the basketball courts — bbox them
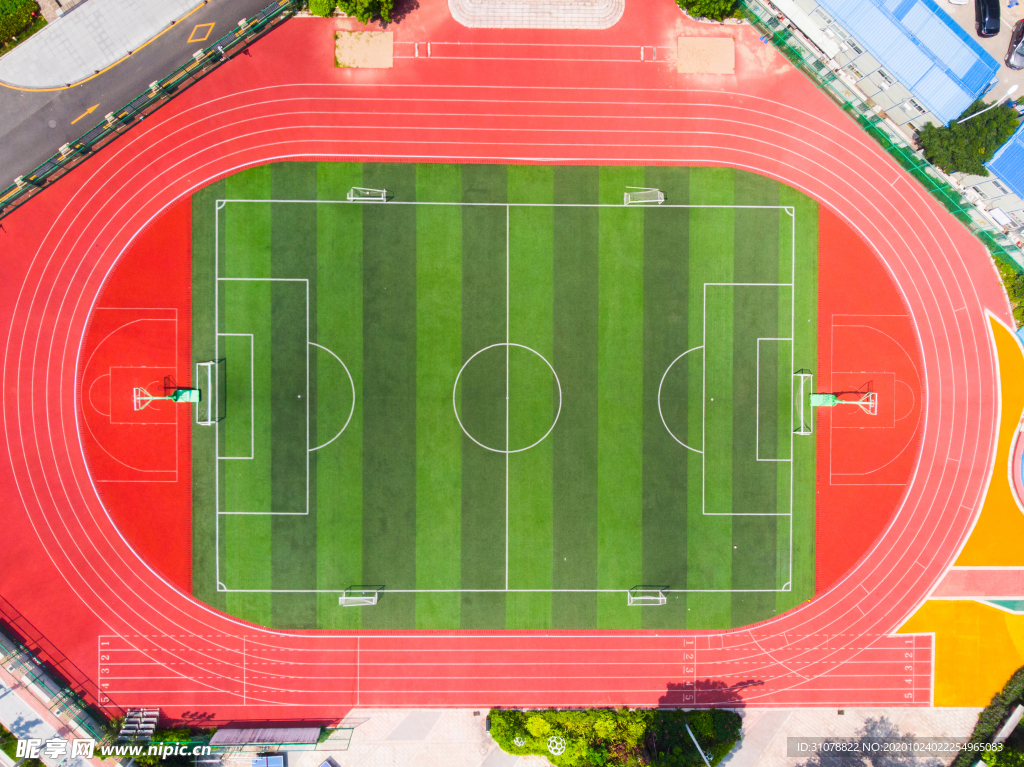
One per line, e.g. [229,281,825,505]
[81,196,192,596]
[815,205,921,595]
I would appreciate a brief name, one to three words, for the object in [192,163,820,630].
sports field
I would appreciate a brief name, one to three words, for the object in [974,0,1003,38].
car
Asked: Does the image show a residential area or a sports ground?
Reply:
sports ground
